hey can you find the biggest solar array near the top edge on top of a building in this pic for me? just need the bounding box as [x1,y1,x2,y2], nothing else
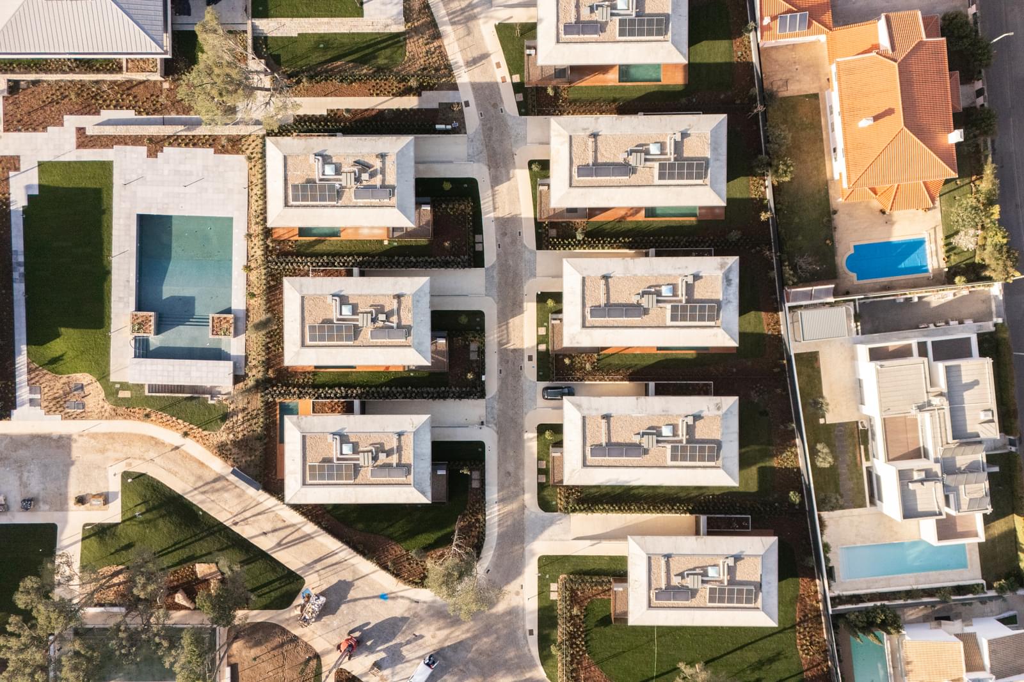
[619,19,665,41]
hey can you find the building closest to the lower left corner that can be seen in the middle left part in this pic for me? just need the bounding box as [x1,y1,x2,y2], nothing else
[129,359,234,402]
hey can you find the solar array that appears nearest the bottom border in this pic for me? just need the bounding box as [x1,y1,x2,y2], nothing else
[709,585,755,606]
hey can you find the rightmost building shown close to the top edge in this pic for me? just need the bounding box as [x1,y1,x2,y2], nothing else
[819,7,973,211]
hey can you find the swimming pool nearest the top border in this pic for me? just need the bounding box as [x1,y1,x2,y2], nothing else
[619,65,661,81]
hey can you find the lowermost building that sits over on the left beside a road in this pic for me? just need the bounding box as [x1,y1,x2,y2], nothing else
[277,400,448,504]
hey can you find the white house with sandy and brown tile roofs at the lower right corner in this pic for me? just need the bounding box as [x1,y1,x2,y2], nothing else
[891,606,1024,682]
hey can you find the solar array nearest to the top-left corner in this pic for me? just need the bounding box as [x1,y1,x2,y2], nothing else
[289,183,335,205]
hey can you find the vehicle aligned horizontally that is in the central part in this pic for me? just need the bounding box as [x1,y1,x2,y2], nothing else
[544,386,574,400]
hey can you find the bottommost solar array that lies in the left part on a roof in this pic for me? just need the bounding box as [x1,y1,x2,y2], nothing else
[307,464,353,485]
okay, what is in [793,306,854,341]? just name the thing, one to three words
building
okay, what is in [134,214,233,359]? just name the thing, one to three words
swimming pool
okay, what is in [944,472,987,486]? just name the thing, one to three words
solar array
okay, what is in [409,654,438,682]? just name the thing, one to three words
truck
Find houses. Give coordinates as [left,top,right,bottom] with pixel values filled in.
[549,397,739,486]
[891,606,1024,682]
[283,277,449,371]
[277,400,448,504]
[537,114,727,223]
[0,0,173,58]
[525,0,688,90]
[819,7,973,211]
[266,136,434,240]
[549,256,739,353]
[843,334,1000,546]
[610,536,778,626]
